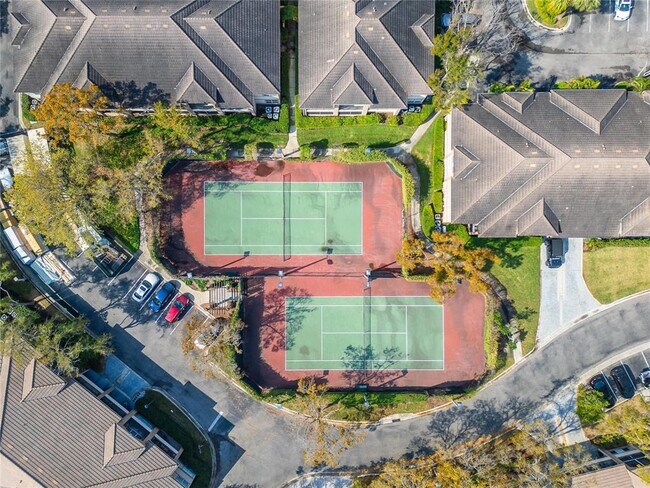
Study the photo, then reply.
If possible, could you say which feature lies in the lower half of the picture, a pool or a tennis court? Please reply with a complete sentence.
It is a tennis court that can be seen in the lower half of the picture.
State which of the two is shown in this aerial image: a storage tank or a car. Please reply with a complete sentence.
There is a car in the scene.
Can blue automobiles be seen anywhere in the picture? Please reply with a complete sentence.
Yes, there's a blue automobile down there.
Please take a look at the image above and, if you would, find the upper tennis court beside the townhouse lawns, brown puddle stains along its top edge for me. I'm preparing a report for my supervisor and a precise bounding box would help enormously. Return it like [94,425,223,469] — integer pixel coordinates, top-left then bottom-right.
[162,160,404,276]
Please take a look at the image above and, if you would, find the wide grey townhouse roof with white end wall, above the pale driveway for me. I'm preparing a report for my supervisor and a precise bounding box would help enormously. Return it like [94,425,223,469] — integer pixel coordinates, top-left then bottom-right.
[446,89,650,237]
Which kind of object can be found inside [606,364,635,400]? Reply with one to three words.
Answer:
car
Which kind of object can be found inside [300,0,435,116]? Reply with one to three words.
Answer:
house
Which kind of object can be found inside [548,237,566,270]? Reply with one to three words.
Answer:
car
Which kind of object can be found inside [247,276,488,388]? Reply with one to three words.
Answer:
tennis court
